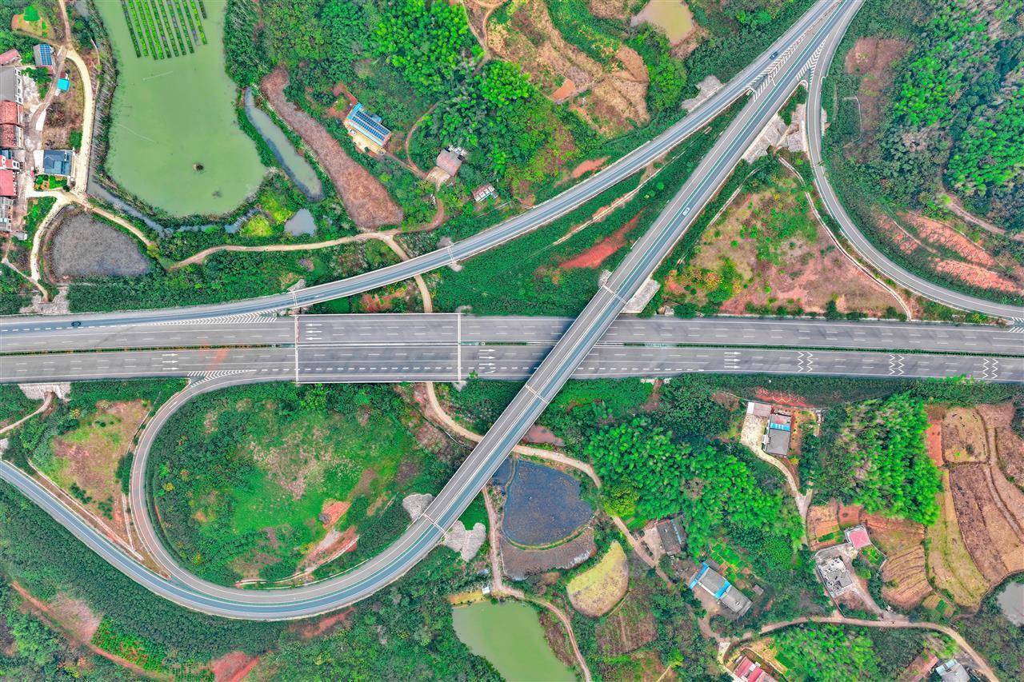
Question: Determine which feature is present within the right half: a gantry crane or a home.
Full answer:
The feature located within the right half is a home.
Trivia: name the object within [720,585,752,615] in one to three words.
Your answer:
house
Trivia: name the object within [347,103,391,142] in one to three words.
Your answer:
house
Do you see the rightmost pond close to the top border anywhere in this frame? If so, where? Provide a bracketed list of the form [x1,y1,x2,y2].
[631,0,696,40]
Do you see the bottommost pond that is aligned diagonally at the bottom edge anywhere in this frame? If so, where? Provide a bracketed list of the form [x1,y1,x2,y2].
[451,601,577,682]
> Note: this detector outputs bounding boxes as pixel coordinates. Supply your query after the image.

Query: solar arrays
[39,43,52,64]
[357,108,387,133]
[353,113,383,139]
